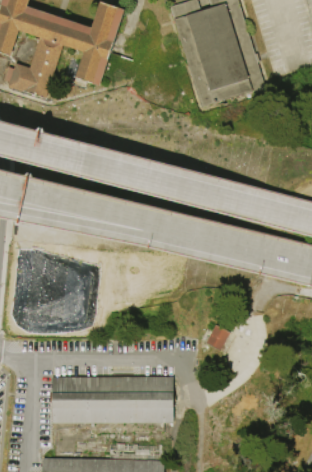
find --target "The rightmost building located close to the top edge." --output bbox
[172,0,264,111]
